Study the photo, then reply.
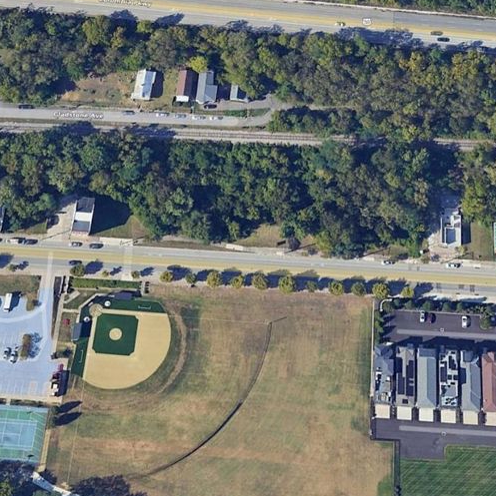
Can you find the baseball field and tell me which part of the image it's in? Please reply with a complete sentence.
The baseball field sits in the bottom section of the image.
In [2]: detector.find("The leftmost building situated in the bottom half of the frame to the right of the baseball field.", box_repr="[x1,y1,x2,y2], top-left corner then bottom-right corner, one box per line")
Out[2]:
[375,342,394,405]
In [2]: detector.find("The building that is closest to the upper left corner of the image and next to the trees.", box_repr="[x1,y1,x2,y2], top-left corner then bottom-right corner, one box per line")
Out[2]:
[132,69,156,105]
